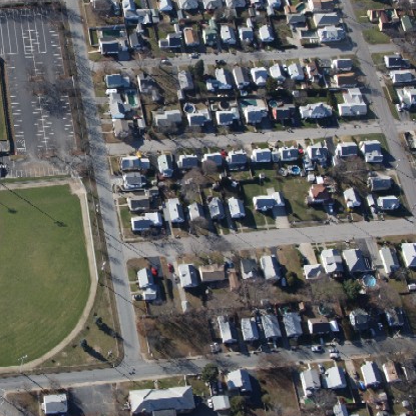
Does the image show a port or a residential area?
residential area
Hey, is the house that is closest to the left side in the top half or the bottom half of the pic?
bottom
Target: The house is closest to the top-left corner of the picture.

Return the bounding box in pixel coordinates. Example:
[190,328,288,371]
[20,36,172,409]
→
[91,0,120,17]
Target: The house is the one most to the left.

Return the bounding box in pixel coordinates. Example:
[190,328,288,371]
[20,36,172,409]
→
[44,396,67,416]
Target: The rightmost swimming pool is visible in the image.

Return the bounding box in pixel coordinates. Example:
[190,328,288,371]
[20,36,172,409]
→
[361,274,376,288]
